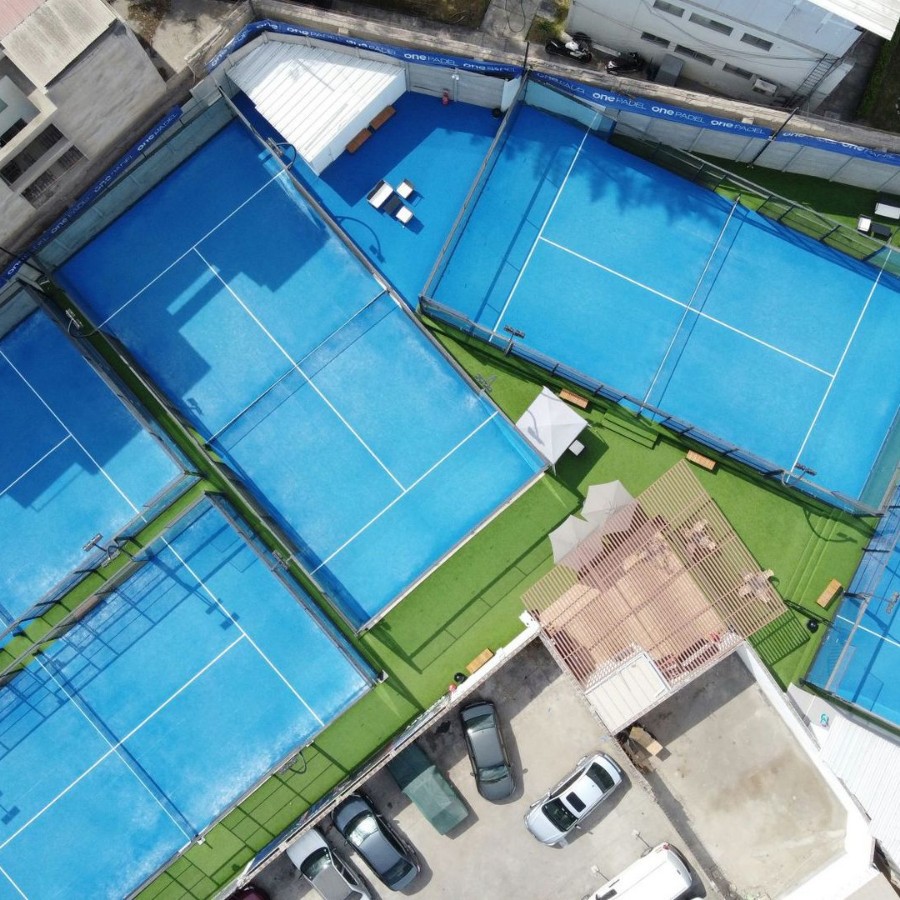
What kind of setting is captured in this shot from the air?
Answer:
sports ground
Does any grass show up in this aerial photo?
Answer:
Yes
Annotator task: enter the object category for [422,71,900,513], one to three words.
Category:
sports court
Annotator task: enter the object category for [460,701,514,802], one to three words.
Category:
car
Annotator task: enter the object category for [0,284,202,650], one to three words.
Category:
sports court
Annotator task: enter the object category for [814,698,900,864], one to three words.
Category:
building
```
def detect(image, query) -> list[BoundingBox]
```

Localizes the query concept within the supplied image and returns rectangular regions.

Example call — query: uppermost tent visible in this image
[513,388,587,465]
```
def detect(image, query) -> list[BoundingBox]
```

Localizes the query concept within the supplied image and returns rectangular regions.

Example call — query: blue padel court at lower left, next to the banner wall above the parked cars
[0,497,379,900]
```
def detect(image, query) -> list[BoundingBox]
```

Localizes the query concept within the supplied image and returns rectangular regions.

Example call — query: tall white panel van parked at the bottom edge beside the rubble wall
[594,848,697,900]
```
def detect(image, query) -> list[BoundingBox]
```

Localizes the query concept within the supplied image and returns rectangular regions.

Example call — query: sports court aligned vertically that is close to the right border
[805,461,900,724]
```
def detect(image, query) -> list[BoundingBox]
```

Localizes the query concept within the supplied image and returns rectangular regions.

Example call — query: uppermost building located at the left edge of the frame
[0,0,168,217]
